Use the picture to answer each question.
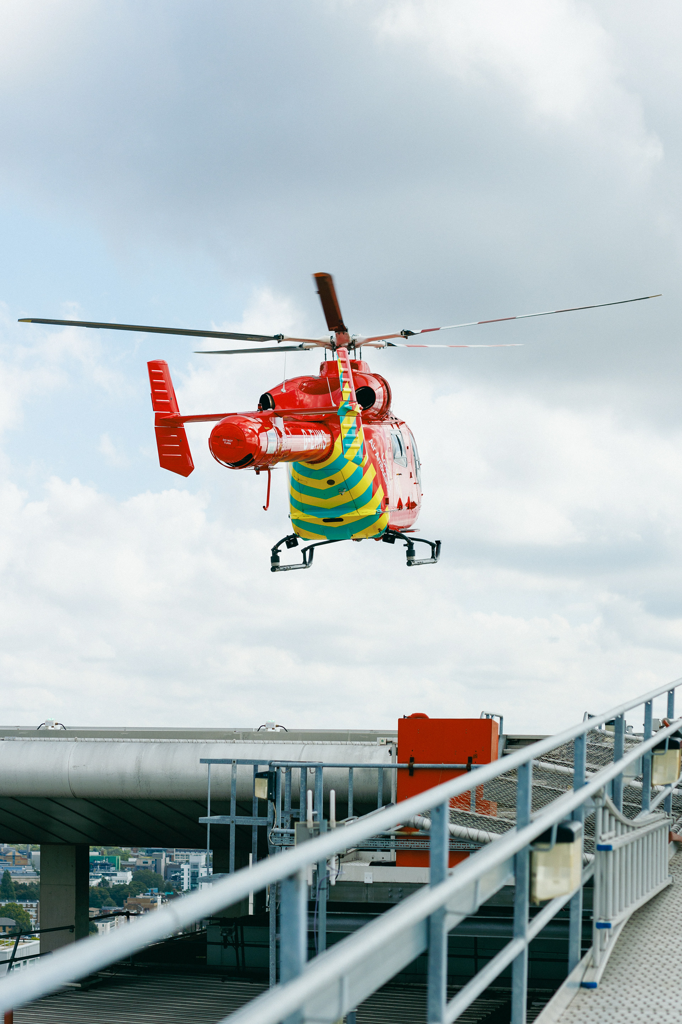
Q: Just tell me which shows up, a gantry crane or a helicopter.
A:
helicopter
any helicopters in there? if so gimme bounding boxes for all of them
[17,273,661,571]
